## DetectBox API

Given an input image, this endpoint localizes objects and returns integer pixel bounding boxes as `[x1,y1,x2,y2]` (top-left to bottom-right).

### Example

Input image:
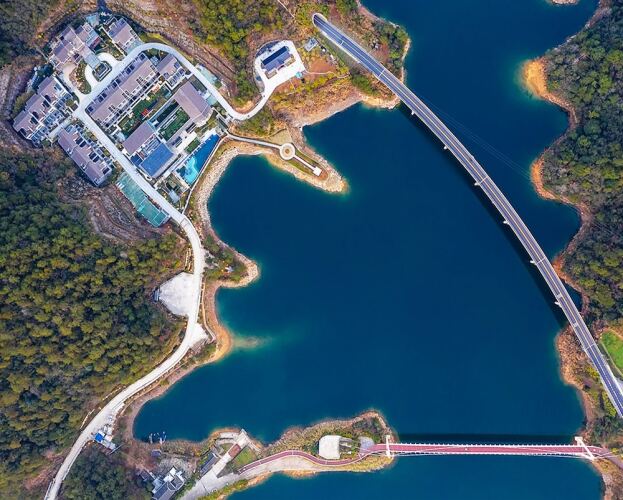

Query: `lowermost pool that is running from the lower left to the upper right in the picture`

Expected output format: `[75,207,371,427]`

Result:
[178,133,222,186]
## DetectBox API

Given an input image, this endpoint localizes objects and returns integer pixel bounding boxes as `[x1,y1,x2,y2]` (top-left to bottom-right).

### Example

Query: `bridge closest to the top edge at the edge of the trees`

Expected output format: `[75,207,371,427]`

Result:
[306,7,623,424]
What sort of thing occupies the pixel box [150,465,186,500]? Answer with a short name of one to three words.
house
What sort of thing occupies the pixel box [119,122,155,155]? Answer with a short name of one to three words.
building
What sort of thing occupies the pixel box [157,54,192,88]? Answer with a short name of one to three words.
house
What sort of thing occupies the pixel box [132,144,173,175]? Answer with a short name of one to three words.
building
